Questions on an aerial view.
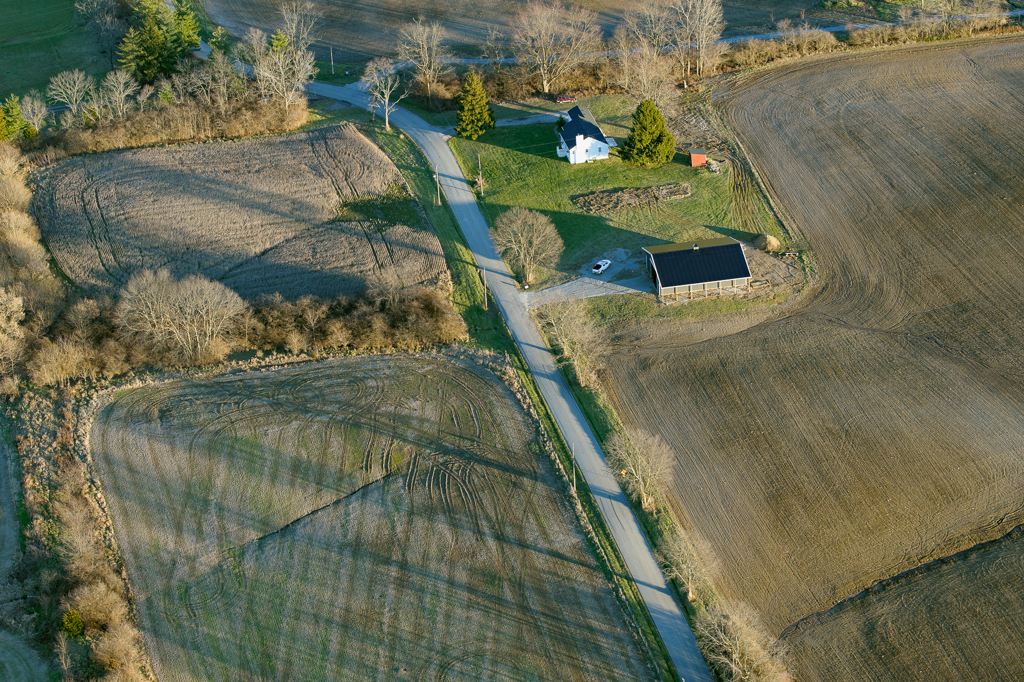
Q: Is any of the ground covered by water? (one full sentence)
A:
No, there's no water in this view.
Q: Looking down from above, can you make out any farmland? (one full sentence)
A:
Yes, there is farmland in the image.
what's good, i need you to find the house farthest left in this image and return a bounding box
[554,103,611,164]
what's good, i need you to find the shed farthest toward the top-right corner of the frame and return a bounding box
[687,146,708,167]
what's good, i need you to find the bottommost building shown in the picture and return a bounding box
[639,239,753,302]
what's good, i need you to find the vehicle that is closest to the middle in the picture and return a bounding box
[589,259,614,273]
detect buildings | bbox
[687,146,708,167]
[554,103,611,164]
[639,239,753,302]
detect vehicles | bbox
[556,94,577,104]
[589,259,614,273]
